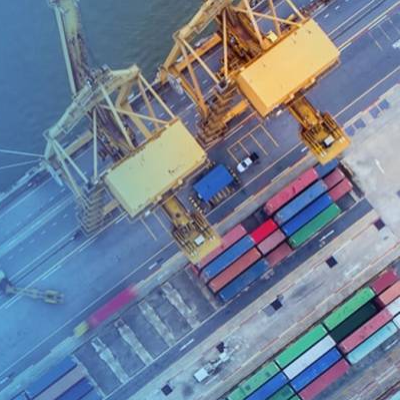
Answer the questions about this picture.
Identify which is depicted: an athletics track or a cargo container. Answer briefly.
cargo container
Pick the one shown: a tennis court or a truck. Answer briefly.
truck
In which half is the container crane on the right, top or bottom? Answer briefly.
top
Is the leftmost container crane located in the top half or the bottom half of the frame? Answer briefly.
top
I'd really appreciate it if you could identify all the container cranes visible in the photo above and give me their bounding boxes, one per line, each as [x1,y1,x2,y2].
[33,0,223,266]
[144,0,355,166]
